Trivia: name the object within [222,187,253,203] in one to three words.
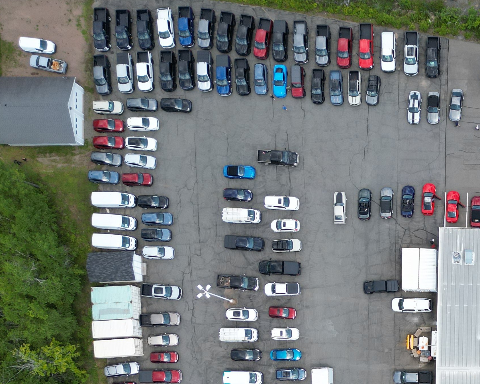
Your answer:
car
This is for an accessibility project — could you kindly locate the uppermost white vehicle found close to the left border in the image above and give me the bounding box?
[17,36,59,57]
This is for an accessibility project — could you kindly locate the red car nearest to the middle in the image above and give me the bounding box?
[121,171,155,188]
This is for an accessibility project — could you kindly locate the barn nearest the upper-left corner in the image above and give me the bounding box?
[0,76,84,149]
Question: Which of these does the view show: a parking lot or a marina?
parking lot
